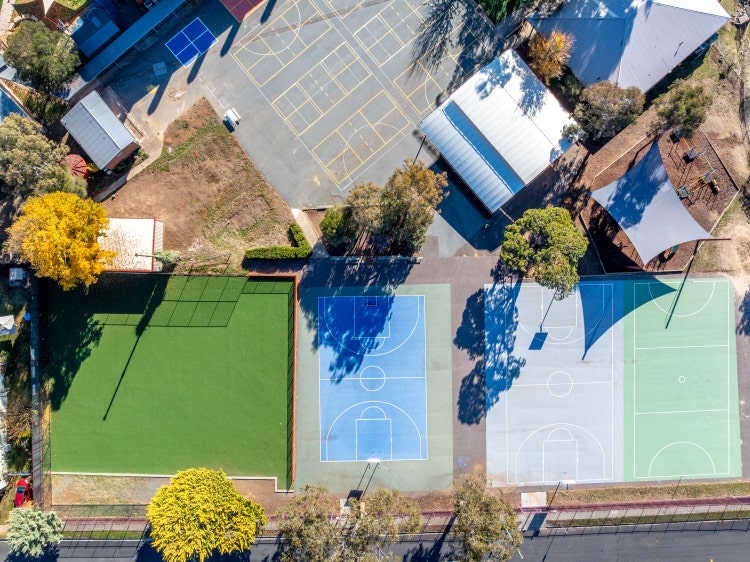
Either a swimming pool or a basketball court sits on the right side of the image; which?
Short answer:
basketball court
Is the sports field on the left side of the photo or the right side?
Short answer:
left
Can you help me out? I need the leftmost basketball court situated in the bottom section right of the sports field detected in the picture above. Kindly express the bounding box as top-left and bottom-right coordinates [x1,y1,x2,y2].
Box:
[296,284,453,491]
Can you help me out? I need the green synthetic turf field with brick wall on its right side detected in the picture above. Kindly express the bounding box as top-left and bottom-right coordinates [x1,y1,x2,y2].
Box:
[47,276,296,492]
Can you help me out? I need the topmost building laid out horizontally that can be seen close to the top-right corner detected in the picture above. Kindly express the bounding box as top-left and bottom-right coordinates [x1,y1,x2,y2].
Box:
[525,0,731,95]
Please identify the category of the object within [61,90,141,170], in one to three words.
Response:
building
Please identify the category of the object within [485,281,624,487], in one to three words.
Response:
basketball court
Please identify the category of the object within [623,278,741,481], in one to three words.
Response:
sports court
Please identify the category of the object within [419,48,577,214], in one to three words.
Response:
building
